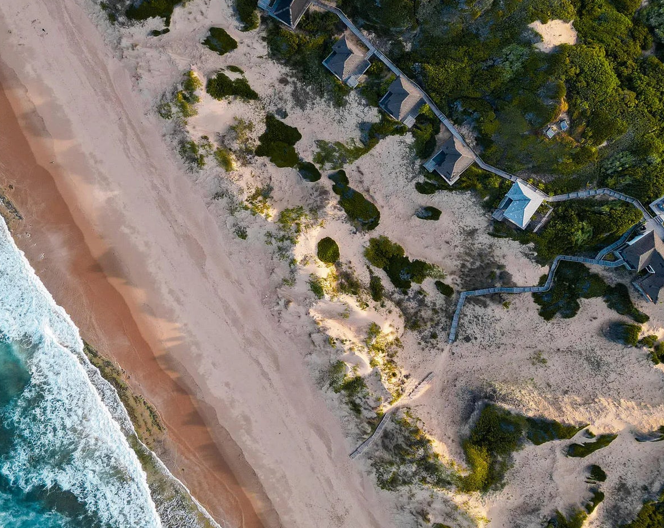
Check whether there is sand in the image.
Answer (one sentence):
Yes, some sand is visible.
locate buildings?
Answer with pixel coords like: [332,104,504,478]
[377,77,427,130]
[421,134,475,187]
[607,228,664,307]
[490,180,554,233]
[322,35,372,92]
[257,0,313,31]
